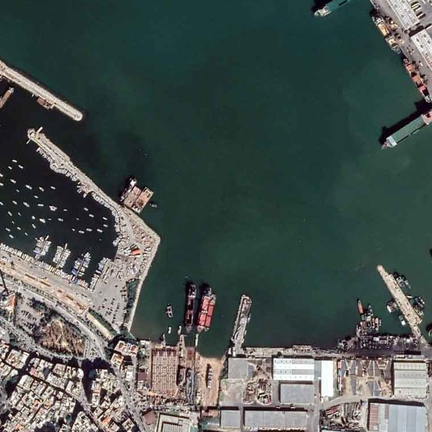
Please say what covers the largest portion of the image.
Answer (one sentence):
The scene is dominated by water.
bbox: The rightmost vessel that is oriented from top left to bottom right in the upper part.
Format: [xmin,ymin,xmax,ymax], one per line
[403,57,431,102]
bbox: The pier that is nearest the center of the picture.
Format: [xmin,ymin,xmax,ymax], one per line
[233,299,250,345]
